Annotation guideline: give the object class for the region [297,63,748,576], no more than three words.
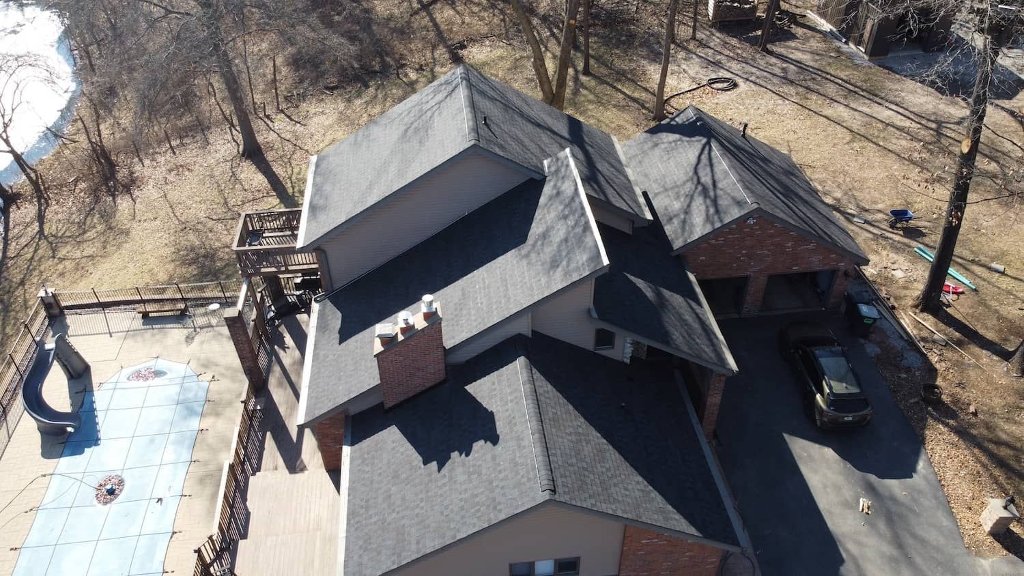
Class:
house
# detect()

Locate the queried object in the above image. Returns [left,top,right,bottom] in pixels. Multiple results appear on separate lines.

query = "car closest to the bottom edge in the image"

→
[779,330,875,428]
